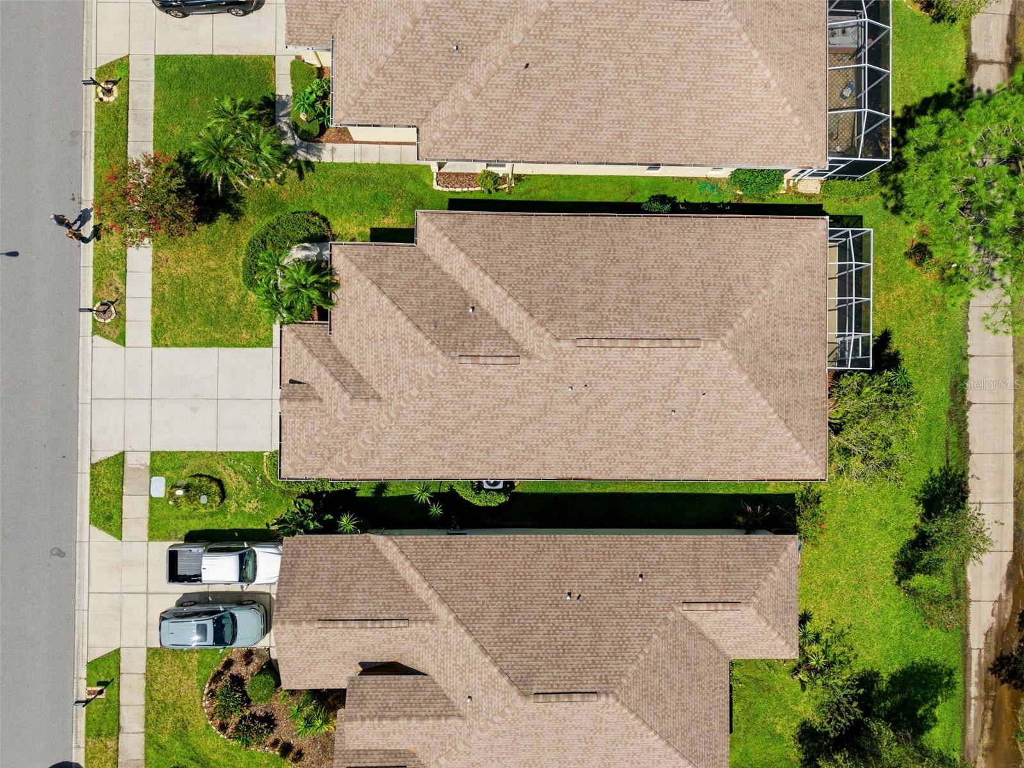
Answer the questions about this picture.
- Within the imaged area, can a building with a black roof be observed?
No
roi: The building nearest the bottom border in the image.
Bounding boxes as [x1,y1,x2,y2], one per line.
[270,528,800,768]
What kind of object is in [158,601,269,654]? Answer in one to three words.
car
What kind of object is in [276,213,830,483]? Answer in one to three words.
house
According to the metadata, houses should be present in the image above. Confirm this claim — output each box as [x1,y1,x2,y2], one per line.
[281,0,829,188]
[276,213,830,483]
[270,528,800,768]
